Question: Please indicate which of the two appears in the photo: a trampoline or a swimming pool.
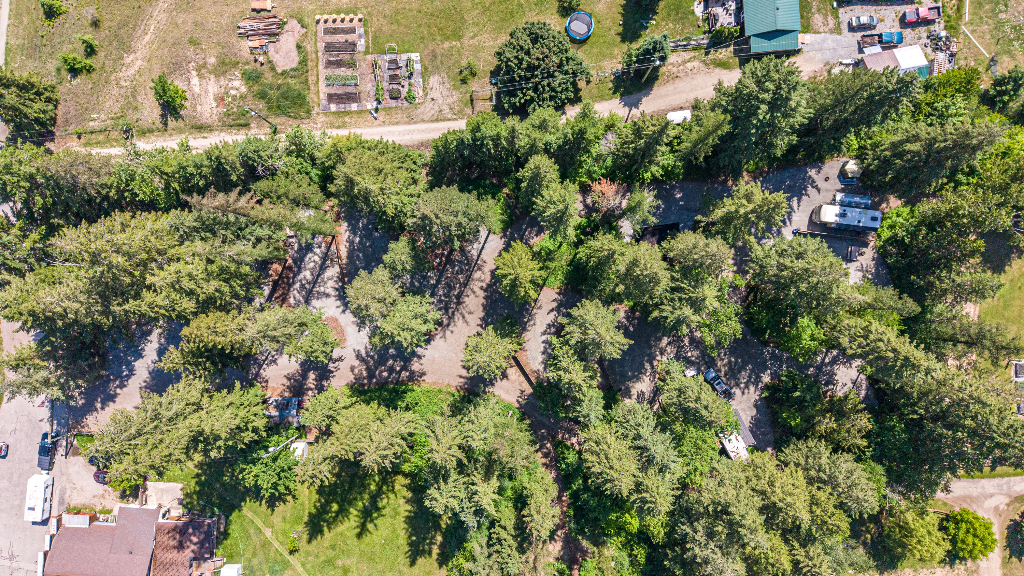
trampoline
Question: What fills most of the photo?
trees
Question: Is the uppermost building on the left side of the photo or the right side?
right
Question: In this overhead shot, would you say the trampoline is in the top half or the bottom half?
top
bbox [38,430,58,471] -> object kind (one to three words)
vehicle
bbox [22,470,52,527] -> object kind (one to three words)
trailer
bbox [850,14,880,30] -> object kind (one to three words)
car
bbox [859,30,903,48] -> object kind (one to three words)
vehicle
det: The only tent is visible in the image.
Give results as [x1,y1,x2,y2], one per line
[840,160,864,180]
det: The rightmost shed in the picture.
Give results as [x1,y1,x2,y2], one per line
[863,43,938,80]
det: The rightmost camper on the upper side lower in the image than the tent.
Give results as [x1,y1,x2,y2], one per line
[812,192,888,231]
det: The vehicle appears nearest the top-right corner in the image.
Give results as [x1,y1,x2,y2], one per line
[903,6,944,24]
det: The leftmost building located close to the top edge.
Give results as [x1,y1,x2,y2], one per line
[739,0,803,54]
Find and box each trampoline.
[567,8,595,39]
